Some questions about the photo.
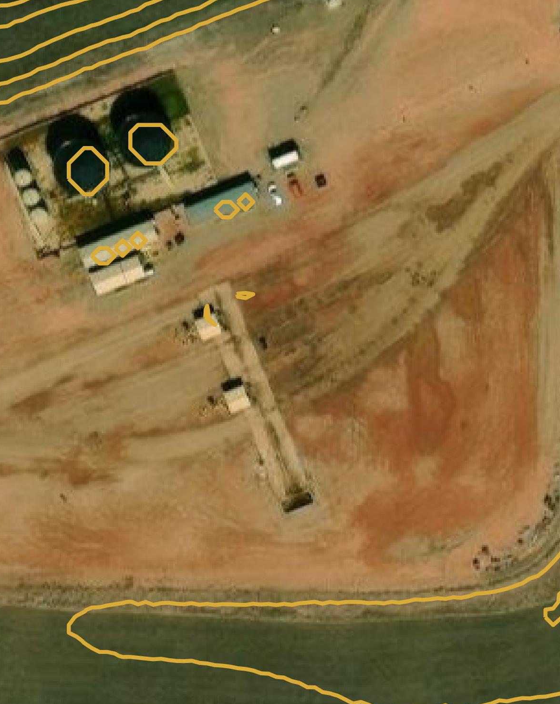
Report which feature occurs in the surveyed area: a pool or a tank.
tank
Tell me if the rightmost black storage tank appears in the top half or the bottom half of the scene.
top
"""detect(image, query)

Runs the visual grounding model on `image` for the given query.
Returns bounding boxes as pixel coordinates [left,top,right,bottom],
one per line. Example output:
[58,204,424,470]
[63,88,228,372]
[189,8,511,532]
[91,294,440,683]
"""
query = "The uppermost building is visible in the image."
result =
[183,181,256,222]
